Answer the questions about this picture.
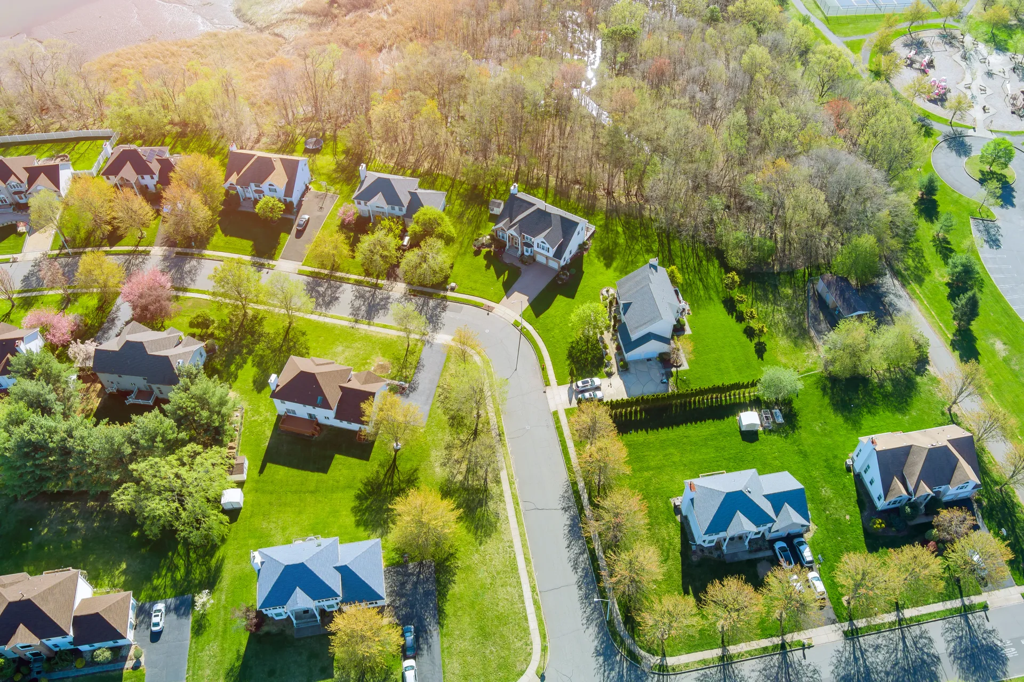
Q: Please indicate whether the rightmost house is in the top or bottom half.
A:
bottom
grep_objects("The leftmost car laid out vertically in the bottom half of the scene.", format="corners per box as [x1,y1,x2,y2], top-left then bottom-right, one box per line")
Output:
[150,602,167,636]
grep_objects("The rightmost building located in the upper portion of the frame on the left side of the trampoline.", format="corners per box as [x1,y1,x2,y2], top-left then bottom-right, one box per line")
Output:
[216,140,307,209]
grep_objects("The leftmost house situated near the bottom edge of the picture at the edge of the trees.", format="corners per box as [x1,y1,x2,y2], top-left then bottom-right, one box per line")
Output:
[0,568,136,671]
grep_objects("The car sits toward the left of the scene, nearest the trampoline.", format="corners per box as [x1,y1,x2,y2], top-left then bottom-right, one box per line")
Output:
[295,214,310,232]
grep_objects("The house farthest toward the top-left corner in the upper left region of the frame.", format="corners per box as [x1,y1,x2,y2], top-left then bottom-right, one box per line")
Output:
[0,154,71,210]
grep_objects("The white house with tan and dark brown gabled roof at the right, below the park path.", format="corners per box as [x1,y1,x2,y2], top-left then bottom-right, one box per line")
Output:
[851,423,979,515]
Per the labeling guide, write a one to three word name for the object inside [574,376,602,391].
car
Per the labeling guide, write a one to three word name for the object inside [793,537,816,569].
car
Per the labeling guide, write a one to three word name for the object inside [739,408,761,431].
shed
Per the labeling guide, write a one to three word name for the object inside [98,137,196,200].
house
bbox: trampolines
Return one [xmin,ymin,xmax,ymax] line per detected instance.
[302,134,323,150]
